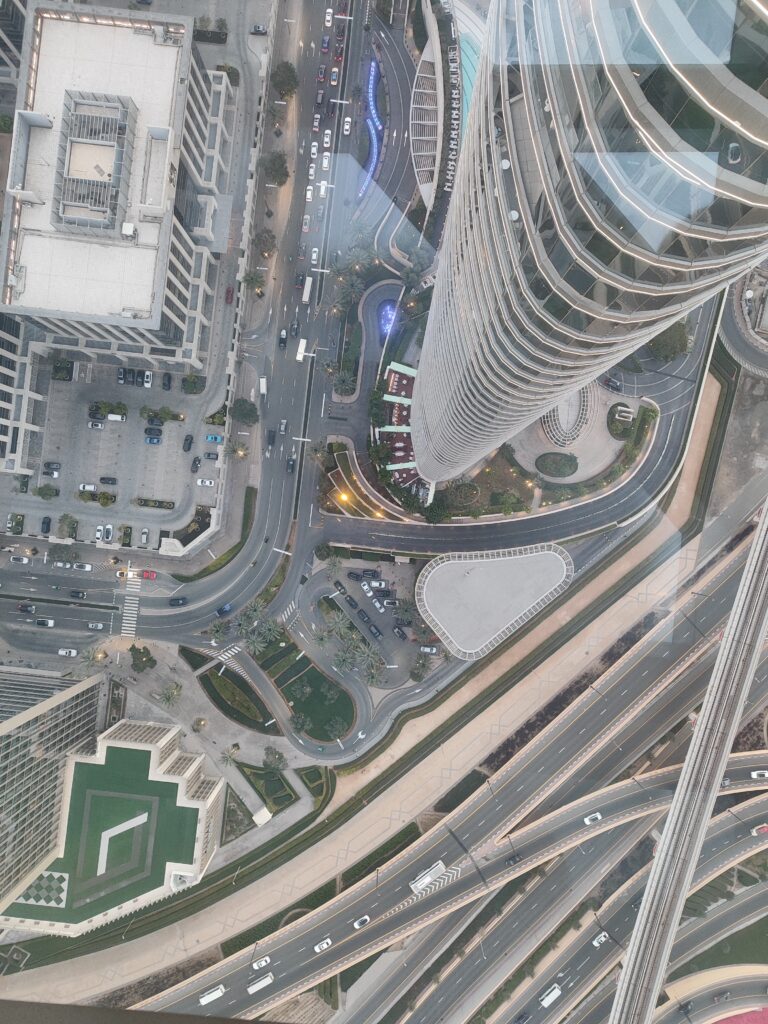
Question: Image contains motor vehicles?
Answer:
Yes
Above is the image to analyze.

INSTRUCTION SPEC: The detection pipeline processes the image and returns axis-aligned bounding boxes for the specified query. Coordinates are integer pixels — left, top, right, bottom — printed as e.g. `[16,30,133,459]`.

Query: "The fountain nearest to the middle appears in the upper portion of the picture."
[380,297,397,344]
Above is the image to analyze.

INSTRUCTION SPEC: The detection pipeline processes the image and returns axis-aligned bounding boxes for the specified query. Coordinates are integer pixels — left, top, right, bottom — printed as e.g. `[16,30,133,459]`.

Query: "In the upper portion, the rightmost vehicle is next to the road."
[604,379,622,391]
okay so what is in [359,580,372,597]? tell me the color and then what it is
white vehicle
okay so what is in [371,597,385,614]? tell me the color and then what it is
white car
